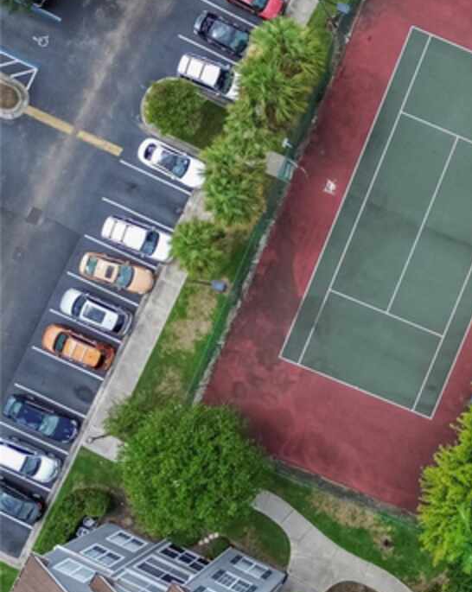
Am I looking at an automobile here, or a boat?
automobile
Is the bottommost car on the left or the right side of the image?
left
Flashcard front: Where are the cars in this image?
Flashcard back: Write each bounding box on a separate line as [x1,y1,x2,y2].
[43,323,119,374]
[171,49,241,102]
[188,10,256,59]
[0,431,60,482]
[60,287,135,338]
[0,476,44,523]
[99,212,176,264]
[4,392,81,442]
[79,247,156,297]
[225,0,291,21]
[135,137,211,188]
